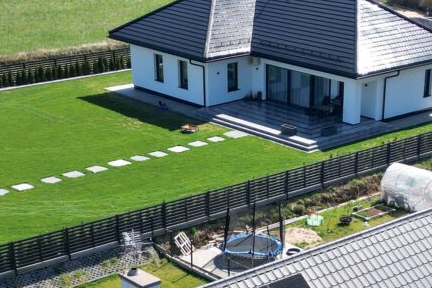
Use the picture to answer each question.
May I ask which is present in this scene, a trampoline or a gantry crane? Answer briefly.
trampoline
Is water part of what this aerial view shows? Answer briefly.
No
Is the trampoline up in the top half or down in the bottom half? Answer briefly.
bottom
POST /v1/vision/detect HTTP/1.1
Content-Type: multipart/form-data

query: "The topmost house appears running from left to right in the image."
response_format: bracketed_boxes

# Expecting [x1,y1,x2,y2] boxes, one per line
[107,0,432,151]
